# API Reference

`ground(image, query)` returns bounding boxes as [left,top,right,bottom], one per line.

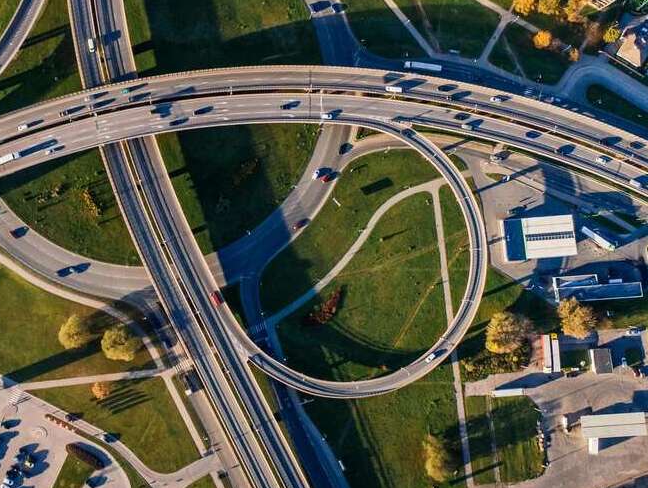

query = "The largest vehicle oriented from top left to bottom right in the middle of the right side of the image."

[583,224,618,249]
